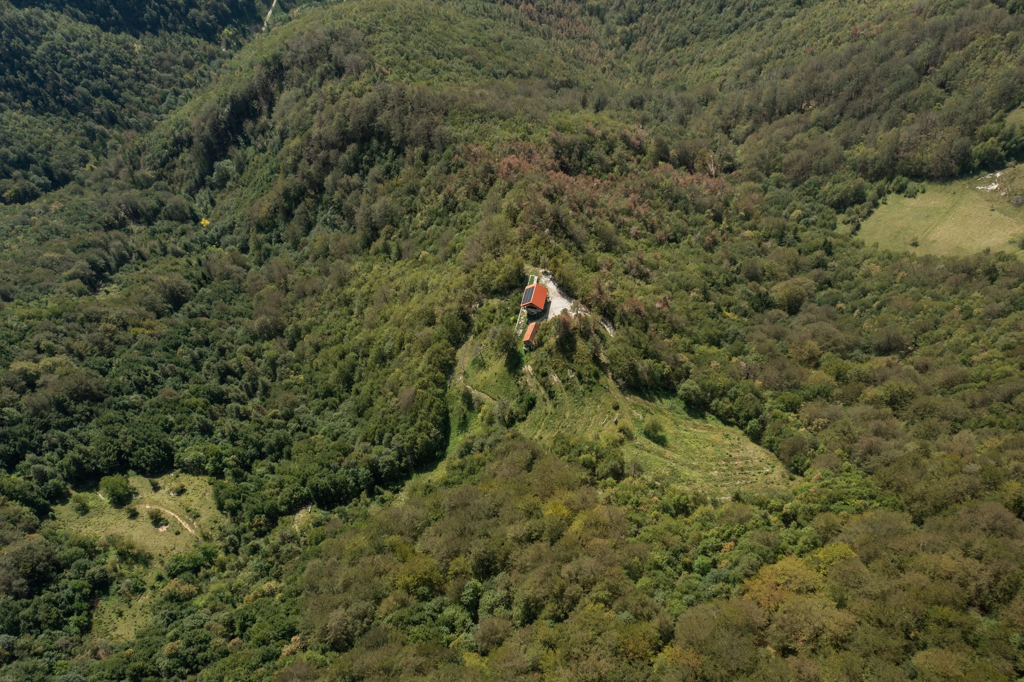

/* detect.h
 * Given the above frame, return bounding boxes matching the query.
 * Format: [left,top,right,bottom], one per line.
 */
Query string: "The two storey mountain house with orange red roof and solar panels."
[519,283,548,317]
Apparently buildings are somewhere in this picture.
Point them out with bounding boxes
[519,283,548,317]
[523,322,540,348]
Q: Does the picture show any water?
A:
No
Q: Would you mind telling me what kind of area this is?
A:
forest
